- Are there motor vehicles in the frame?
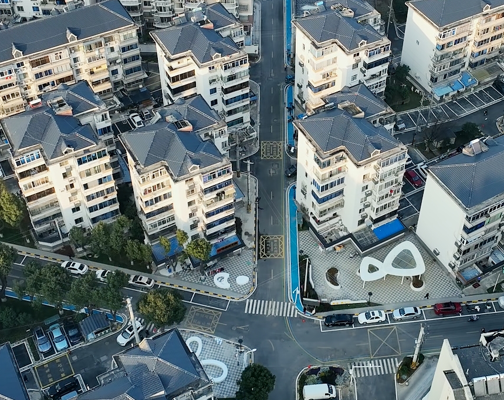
Yes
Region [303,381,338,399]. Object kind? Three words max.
vehicle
